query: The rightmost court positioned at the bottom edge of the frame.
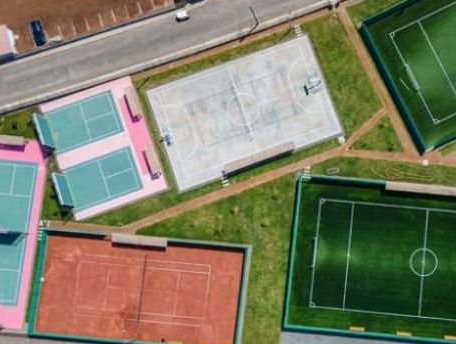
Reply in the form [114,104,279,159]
[32,233,247,344]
